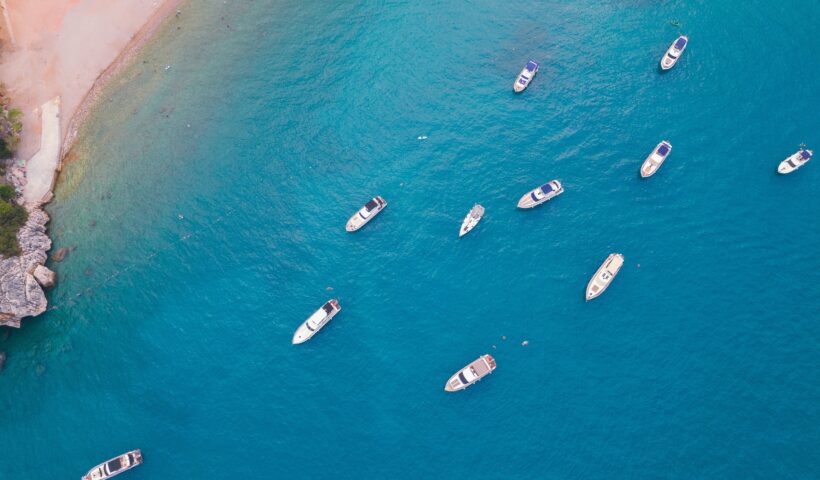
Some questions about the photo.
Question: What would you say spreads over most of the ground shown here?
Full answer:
The scene is dominated by water.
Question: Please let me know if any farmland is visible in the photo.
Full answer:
No, there is no farmland in the image.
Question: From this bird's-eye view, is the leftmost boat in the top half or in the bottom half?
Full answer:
The leftmost boat is in the bottom half of the image.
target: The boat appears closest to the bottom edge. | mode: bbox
[80,450,143,480]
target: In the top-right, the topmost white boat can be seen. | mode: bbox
[661,33,689,70]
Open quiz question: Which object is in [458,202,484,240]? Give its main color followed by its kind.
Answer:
white boat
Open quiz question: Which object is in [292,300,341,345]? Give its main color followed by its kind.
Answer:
white boat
